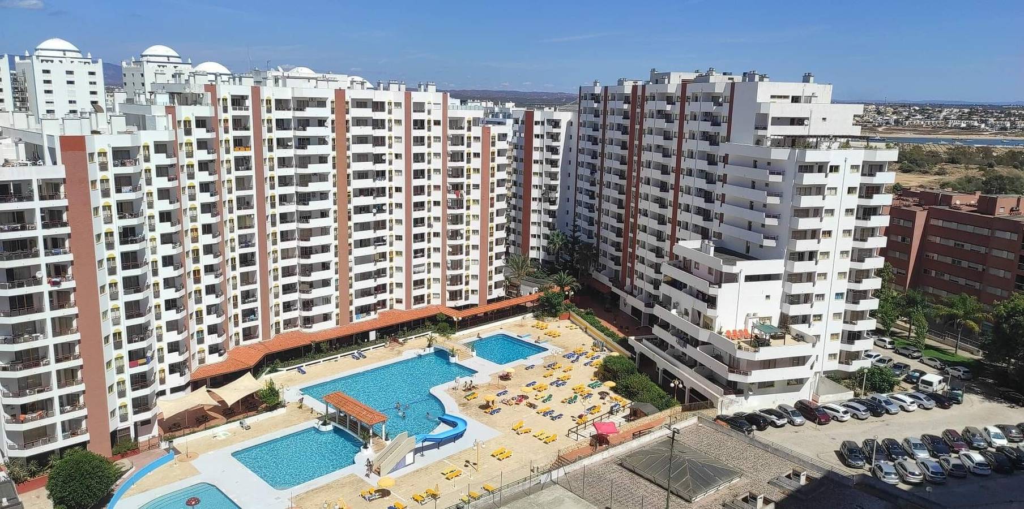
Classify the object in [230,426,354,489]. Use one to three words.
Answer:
swimming pool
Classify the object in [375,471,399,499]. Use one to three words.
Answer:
umbrella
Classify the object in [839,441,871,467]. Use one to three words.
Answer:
car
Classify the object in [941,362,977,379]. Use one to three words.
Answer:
car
